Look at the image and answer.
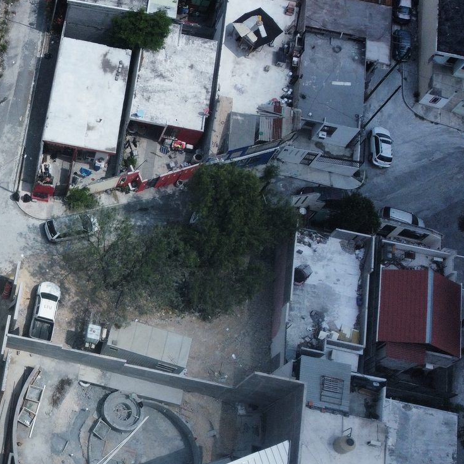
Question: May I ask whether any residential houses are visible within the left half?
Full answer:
Yes, a residential house is visible within the left half.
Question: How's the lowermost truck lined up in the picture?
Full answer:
The lowermost truck runs vertically in the image.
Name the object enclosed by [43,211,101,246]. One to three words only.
van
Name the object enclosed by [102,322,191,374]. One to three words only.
building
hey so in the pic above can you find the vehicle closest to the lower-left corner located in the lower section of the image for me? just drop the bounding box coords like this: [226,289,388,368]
[30,283,63,344]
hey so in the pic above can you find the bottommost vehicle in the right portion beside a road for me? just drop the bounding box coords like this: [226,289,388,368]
[378,202,424,237]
